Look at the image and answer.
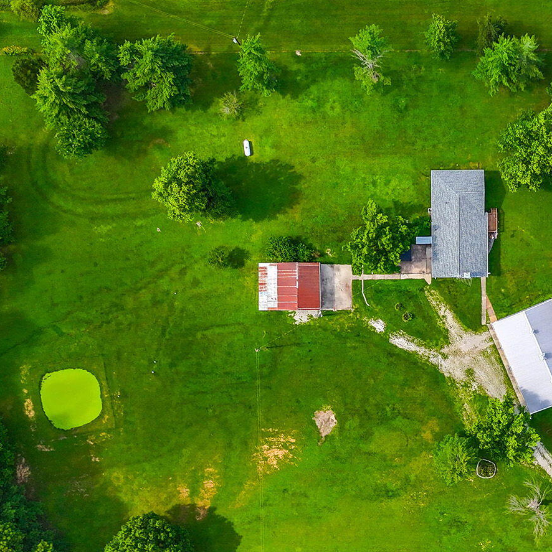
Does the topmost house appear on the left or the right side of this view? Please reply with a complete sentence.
The topmost house is on the right side of the image.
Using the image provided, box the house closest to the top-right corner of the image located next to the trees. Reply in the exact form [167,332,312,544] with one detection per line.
[415,169,491,278]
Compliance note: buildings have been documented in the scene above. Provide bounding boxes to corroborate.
[491,299,552,413]
[415,169,491,278]
[259,263,321,310]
